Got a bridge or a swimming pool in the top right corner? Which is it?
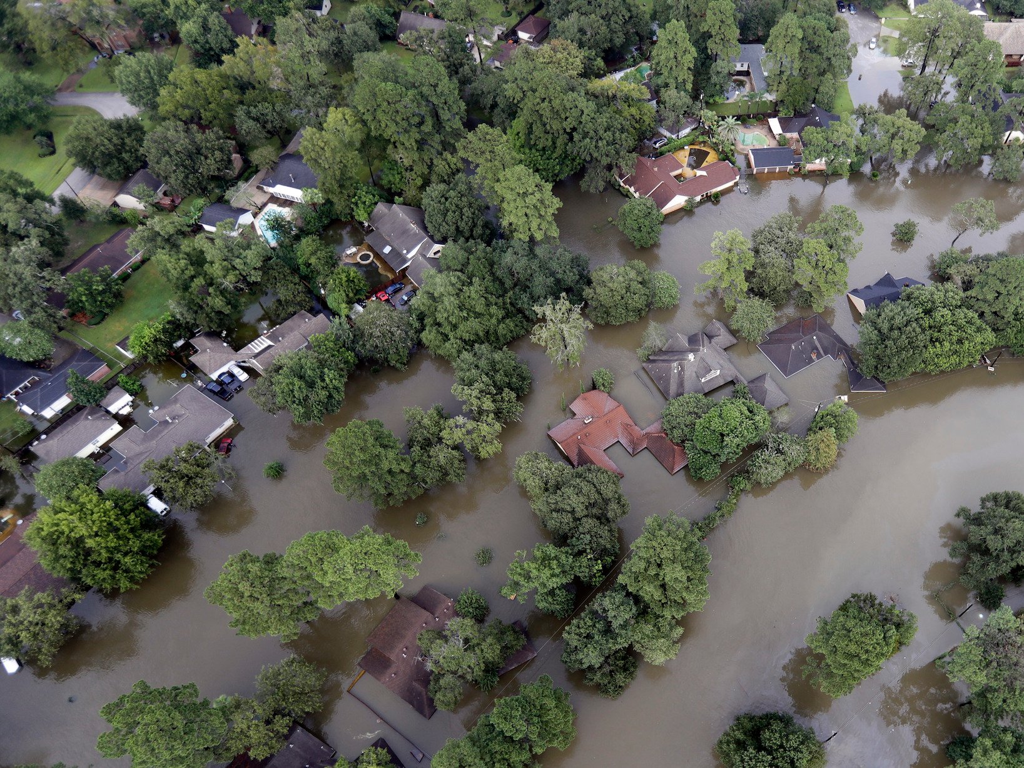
swimming pool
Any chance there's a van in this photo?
Yes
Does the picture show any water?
Yes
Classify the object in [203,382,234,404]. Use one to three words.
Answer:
truck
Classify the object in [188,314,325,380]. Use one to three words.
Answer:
house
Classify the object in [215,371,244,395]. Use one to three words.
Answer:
truck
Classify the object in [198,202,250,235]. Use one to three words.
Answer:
building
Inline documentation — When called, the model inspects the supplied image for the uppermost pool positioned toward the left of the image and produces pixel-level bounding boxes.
[254,203,296,248]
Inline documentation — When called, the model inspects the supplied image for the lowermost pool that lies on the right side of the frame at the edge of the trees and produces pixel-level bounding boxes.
[738,128,773,148]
